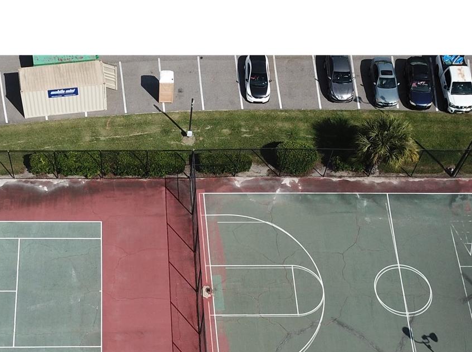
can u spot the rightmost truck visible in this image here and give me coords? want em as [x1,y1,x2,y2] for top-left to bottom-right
[433,52,472,112]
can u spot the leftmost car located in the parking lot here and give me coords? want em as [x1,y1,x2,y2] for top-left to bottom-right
[244,52,274,102]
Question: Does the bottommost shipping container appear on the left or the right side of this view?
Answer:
left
